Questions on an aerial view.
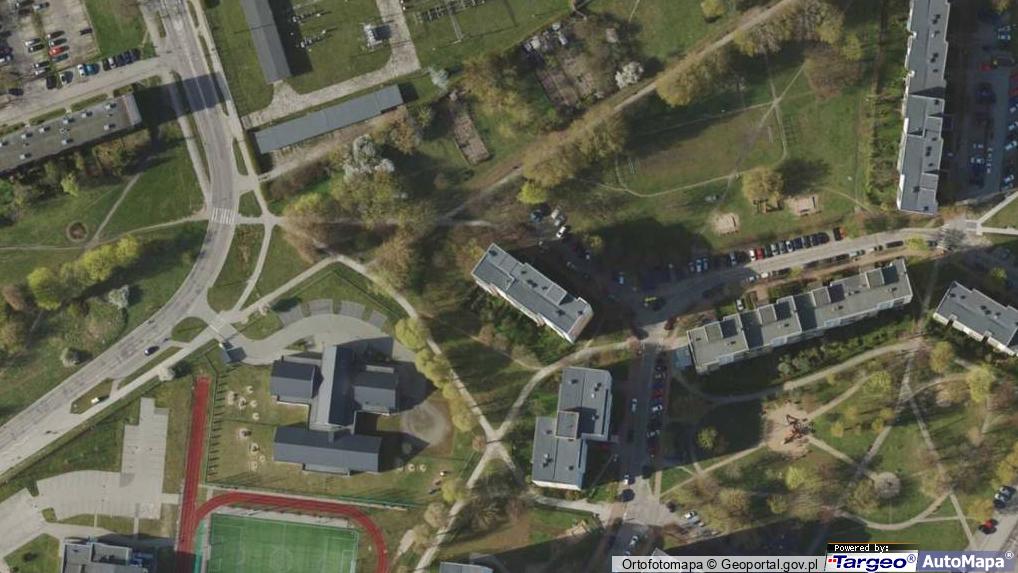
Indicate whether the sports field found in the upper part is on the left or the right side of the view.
right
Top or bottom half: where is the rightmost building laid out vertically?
top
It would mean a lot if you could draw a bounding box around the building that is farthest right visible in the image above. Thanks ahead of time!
[933,282,1018,353]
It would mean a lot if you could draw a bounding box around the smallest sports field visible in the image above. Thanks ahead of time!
[639,129,766,183]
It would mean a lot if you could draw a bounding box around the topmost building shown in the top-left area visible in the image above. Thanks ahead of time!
[241,0,293,85]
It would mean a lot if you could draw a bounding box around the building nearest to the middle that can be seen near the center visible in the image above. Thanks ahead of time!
[471,244,594,339]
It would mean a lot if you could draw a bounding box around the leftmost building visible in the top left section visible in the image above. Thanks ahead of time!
[0,95,144,184]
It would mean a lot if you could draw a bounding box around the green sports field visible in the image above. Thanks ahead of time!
[206,514,357,573]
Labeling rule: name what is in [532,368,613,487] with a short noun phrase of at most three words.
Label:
building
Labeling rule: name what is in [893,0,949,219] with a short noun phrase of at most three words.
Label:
building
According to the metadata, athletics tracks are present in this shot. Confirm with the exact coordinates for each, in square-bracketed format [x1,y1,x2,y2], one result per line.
[174,376,388,573]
